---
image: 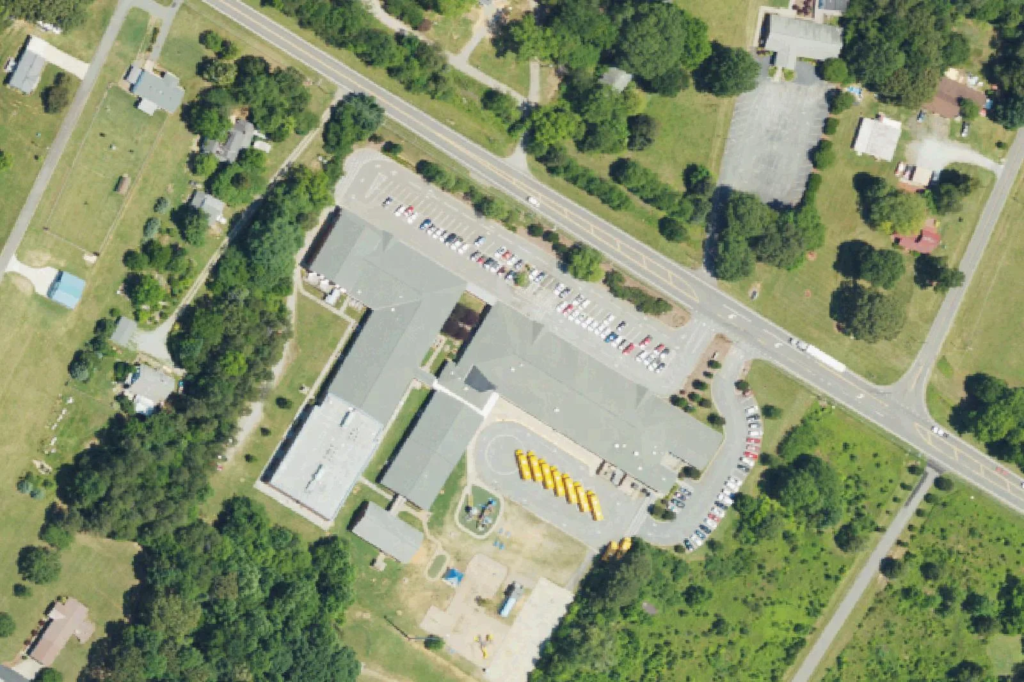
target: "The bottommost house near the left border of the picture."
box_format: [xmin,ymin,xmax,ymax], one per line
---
[31,594,97,663]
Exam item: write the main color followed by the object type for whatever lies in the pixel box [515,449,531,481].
yellow vehicle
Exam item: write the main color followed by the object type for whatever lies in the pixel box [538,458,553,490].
yellow vehicle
